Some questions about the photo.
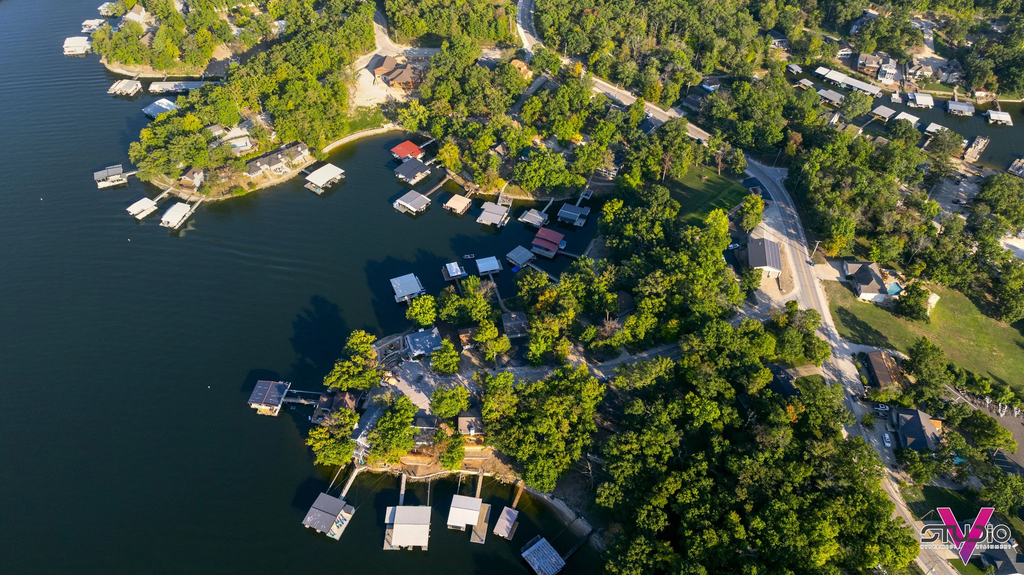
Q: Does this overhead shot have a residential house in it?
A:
Yes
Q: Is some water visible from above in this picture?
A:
Yes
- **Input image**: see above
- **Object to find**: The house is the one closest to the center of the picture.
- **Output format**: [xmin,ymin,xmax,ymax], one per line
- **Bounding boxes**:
[502,311,529,340]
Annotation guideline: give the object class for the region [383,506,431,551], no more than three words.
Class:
pier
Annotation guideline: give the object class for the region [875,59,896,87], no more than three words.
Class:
house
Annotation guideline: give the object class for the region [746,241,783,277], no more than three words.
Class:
building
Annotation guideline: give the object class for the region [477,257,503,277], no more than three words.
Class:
pier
